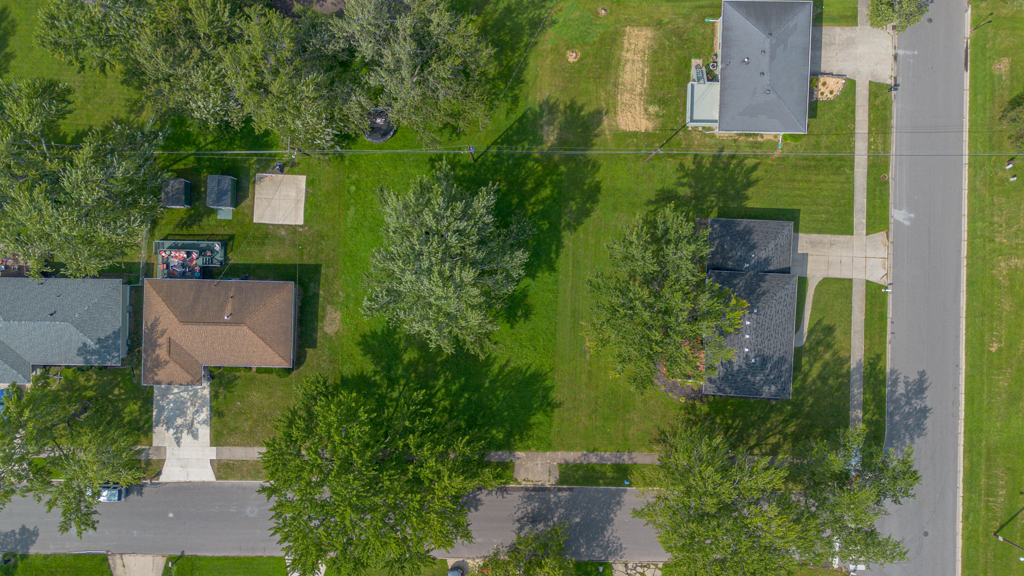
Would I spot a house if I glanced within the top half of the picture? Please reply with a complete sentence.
Yes, a house is visible within the top half of the picture.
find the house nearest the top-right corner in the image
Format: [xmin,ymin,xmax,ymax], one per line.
[713,0,813,136]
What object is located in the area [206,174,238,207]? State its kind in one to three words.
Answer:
shed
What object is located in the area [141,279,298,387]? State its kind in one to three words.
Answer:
house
